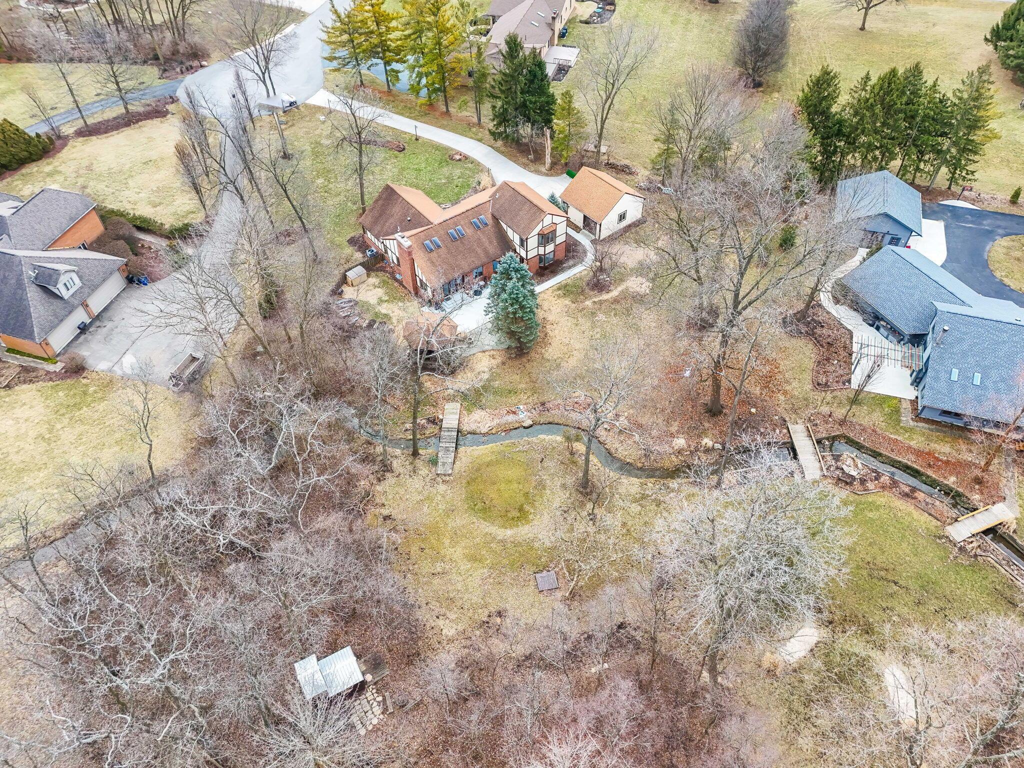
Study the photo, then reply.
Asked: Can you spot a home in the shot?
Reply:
Yes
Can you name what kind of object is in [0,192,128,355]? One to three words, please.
house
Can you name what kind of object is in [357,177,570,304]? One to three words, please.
house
